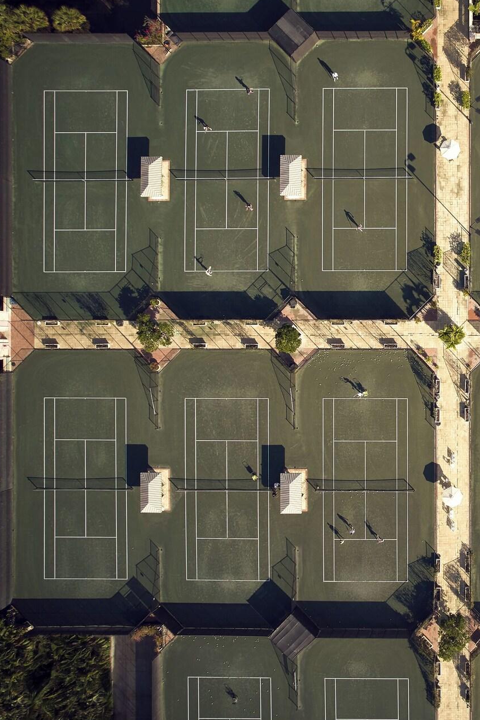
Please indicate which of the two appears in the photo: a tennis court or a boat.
tennis court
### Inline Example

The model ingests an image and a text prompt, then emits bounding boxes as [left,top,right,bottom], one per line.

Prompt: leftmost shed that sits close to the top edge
[269,8,317,61]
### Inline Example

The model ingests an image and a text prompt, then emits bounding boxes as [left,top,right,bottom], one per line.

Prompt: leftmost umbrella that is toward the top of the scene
[440,141,461,162]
